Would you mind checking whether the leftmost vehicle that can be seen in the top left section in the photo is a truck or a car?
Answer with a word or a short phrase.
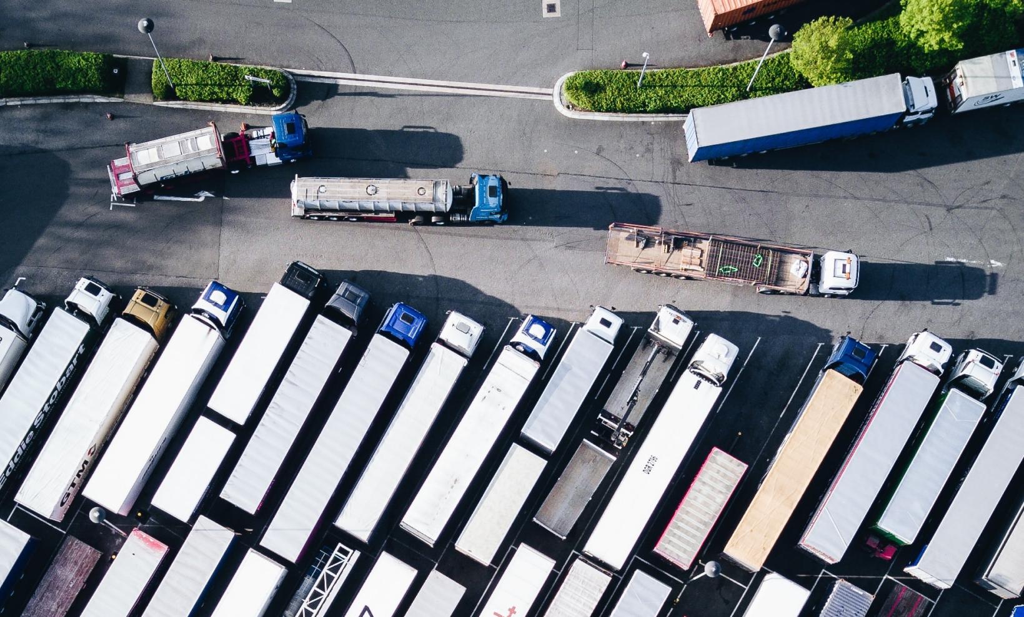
truck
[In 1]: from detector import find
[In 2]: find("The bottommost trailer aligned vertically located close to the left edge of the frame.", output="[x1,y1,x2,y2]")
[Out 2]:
[0,519,41,613]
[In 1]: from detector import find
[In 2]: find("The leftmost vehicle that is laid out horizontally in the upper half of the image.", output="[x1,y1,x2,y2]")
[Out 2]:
[112,109,312,193]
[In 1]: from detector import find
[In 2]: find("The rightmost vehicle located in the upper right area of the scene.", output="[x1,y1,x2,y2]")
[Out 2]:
[929,48,1024,117]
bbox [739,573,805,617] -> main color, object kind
white trailer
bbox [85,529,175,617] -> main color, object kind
white trailer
